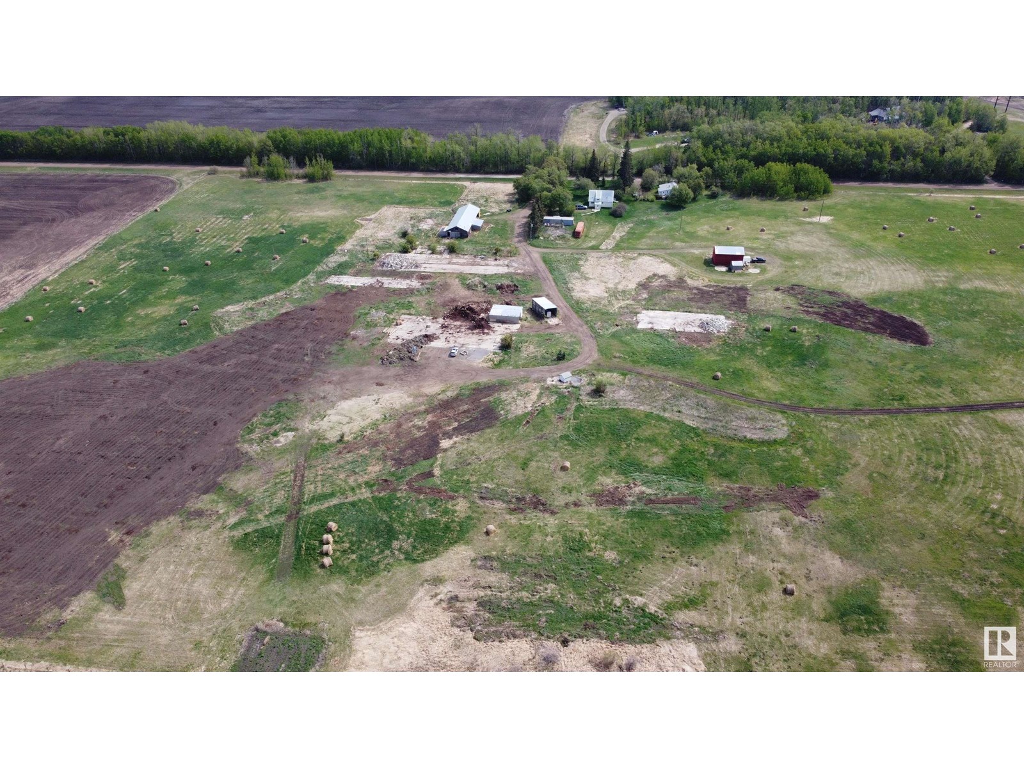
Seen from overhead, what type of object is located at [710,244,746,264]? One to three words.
barn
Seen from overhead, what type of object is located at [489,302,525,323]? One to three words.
shed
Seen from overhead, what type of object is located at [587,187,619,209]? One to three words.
house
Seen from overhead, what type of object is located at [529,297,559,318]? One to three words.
shed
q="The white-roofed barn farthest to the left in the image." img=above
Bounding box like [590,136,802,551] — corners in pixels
[438,201,485,238]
